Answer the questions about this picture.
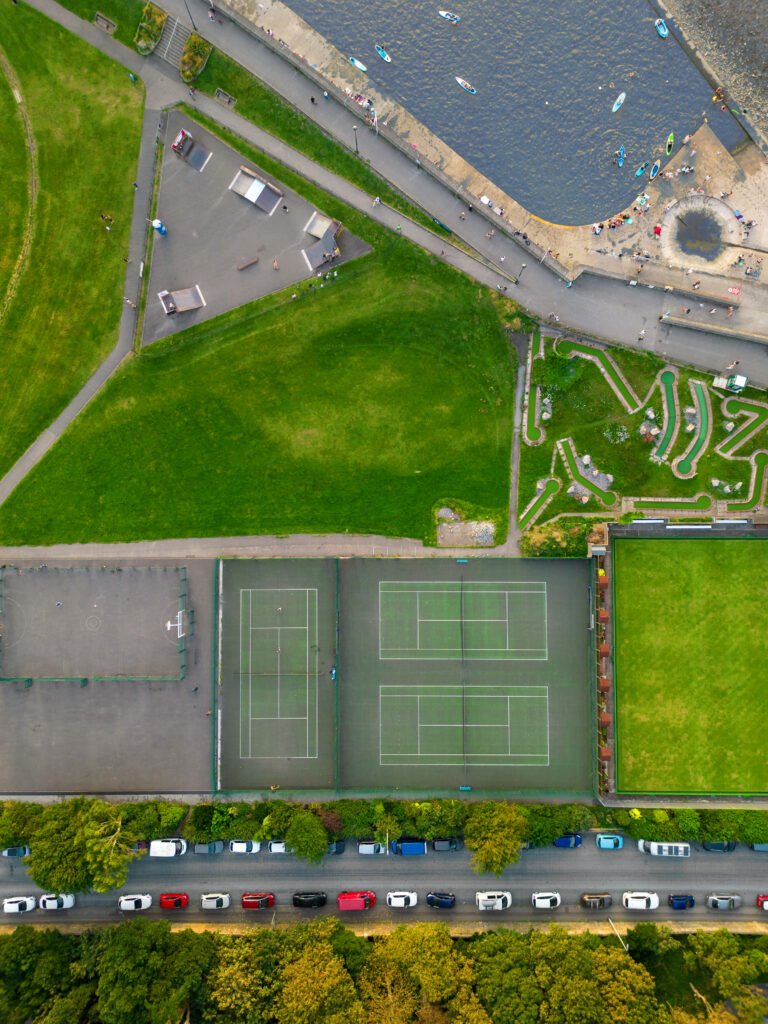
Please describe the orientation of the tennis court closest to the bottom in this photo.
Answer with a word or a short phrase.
from side to side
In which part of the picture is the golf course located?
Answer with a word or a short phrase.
right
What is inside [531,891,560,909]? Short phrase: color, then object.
white car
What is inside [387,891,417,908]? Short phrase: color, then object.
white car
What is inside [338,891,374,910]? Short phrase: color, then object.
red vehicle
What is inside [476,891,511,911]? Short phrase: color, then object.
white vehicle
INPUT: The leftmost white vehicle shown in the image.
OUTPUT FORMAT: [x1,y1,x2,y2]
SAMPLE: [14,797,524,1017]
[3,895,35,913]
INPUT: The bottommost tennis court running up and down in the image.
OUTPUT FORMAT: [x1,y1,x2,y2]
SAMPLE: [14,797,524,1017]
[240,589,318,758]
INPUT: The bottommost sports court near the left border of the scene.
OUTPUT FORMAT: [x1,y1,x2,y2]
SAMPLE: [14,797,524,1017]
[4,570,186,676]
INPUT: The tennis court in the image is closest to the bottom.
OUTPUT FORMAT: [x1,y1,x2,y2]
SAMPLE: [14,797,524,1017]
[378,686,548,765]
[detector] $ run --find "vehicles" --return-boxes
[357,839,386,856]
[120,893,151,911]
[749,839,768,854]
[230,838,260,855]
[41,892,76,910]
[160,893,188,909]
[193,840,224,856]
[595,833,625,850]
[476,891,511,911]
[242,892,276,910]
[579,893,613,911]
[426,891,455,909]
[3,895,35,913]
[637,841,691,860]
[293,891,326,909]
[667,893,695,910]
[268,838,293,855]
[706,892,741,910]
[531,891,560,909]
[431,835,467,854]
[624,891,657,909]
[149,838,187,856]
[1,842,28,860]
[338,891,374,910]
[320,839,349,856]
[202,893,229,910]
[554,836,583,851]
[391,837,427,856]
[702,836,736,853]
[387,891,417,908]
